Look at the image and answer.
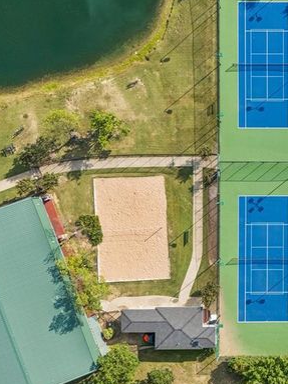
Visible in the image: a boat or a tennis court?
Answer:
tennis court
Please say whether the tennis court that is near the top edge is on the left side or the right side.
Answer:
right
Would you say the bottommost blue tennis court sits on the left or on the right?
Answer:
right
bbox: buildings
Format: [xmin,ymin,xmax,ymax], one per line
[121,306,216,350]
[0,196,106,384]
